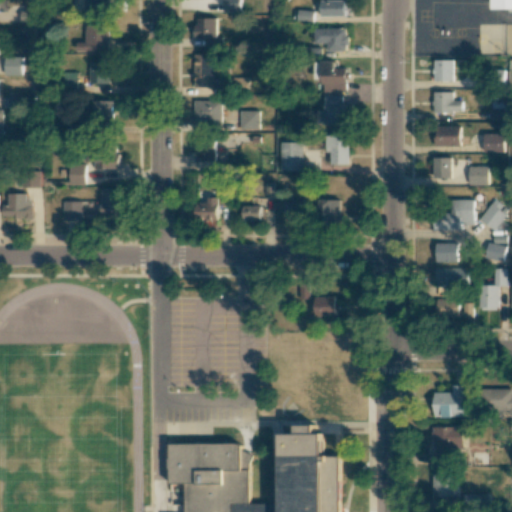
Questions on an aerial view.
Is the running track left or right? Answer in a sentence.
The running track sits on the left side.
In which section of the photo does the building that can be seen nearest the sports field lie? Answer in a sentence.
The building that can be seen nearest the sports field appears toward the bottom of the photo.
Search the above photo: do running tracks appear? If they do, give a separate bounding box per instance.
[0,283,142,512]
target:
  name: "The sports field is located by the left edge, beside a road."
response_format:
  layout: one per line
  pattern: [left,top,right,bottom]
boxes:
[0,344,128,512]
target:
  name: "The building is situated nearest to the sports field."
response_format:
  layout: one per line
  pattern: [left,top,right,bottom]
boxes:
[168,443,272,512]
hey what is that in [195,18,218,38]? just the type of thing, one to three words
house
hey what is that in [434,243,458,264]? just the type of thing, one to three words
house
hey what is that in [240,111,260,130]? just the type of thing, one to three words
building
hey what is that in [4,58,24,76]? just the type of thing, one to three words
building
